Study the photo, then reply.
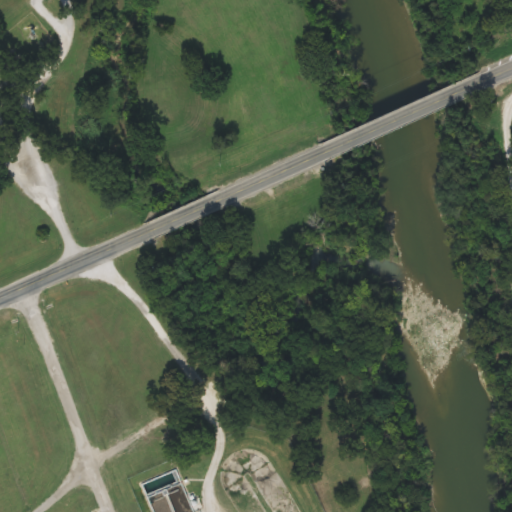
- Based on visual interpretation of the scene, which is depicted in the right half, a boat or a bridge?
bridge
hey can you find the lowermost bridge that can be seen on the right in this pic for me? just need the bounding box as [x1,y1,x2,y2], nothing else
[318,74,482,162]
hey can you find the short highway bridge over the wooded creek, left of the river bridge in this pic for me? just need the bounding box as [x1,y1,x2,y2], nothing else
[143,191,222,240]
